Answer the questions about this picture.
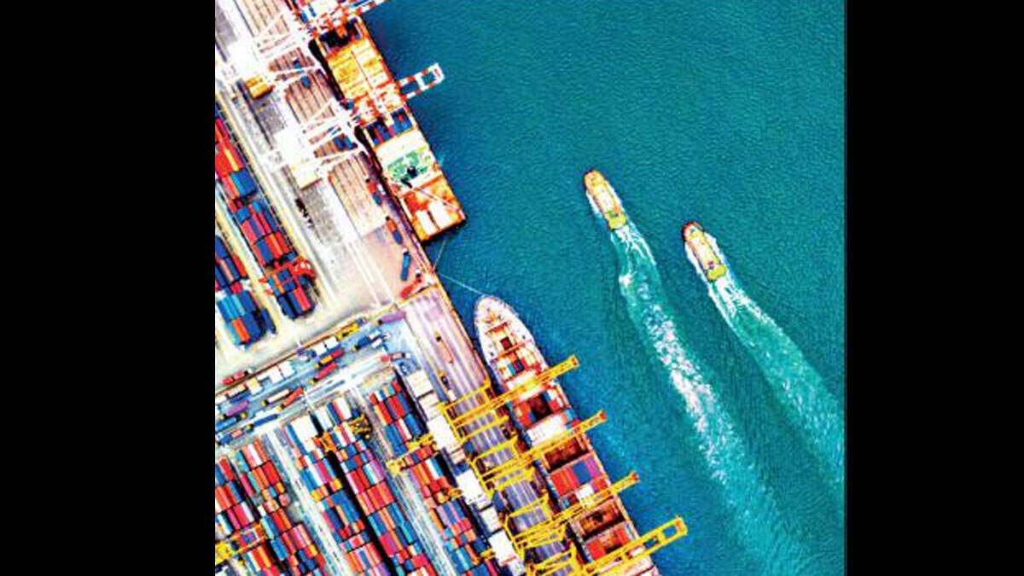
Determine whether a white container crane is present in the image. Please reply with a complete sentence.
Yes, a white container crane can be made out from above.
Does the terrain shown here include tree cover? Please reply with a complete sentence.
No, there's no tree cover in this view.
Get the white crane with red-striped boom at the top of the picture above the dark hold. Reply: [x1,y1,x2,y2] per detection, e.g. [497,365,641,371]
[216,0,379,86]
